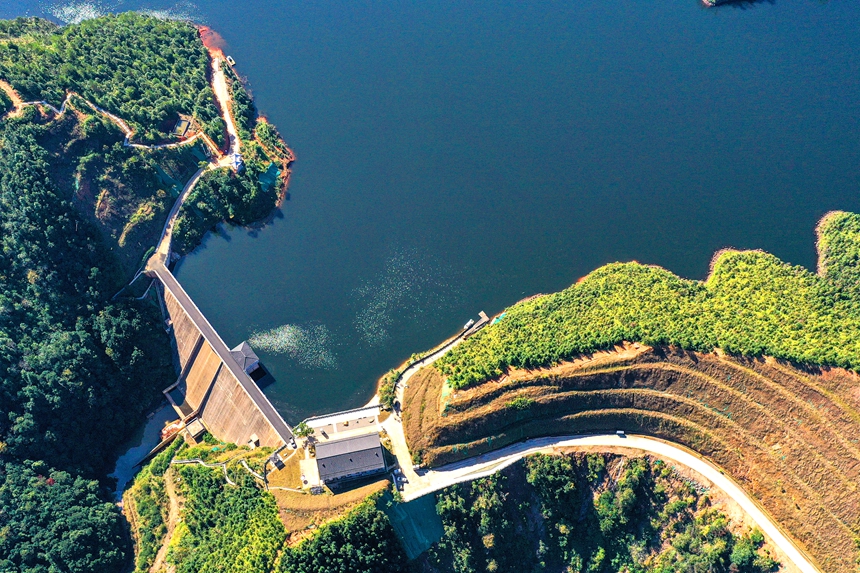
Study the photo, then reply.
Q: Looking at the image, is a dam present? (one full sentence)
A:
Yes, you can see a dam in this photo.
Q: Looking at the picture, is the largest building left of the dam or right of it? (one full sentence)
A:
The dam has the largest building on its right side.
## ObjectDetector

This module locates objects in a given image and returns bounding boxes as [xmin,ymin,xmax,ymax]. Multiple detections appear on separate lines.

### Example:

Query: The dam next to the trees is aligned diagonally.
[154,263,295,450]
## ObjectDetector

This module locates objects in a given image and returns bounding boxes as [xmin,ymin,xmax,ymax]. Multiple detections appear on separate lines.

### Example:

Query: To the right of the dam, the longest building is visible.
[317,434,384,477]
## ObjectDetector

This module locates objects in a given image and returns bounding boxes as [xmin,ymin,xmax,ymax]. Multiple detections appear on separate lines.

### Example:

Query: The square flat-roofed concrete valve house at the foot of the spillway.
[186,418,211,441]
